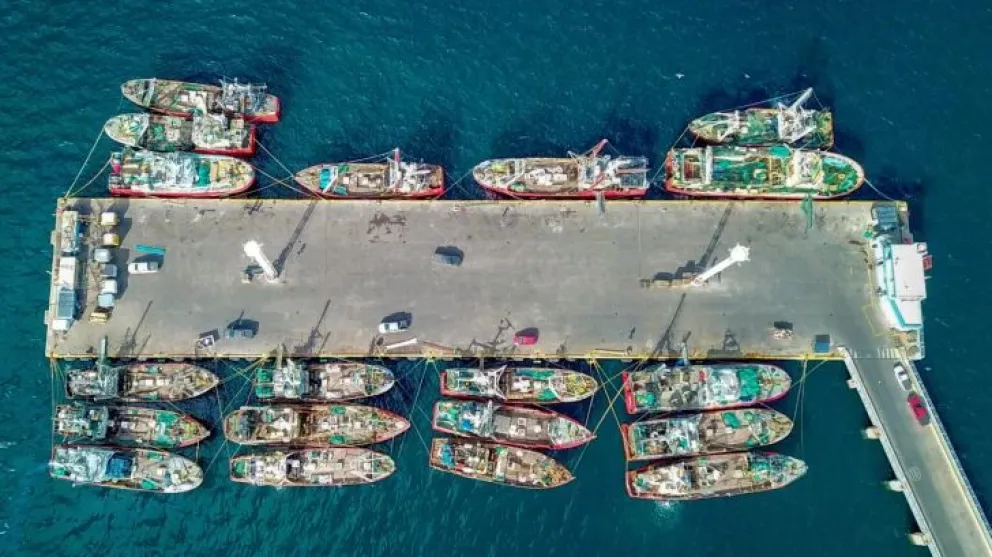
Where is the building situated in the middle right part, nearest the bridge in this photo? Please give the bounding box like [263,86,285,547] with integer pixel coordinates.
[872,238,931,331]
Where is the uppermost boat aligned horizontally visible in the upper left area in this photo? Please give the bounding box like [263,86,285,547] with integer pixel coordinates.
[119,65,282,123]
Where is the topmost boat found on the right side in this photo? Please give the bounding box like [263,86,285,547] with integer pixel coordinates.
[690,82,834,151]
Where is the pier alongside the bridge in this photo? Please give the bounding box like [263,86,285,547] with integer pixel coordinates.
[44,199,922,362]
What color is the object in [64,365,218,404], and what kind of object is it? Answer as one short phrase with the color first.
gray boat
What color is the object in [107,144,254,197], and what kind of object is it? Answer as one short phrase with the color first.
white boat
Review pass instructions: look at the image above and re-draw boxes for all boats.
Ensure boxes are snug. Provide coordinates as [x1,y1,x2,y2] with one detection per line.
[64,365,218,404]
[230,448,395,487]
[103,103,261,158]
[107,144,254,197]
[431,399,601,447]
[51,405,209,447]
[442,365,599,404]
[690,82,834,151]
[474,140,653,198]
[254,362,395,401]
[294,148,443,199]
[46,446,204,494]
[618,410,795,459]
[428,438,574,486]
[622,366,792,412]
[224,403,410,446]
[119,65,282,123]
[662,146,865,200]
[623,451,808,497]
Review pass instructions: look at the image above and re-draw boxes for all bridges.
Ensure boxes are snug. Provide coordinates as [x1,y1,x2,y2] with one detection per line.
[839,337,992,557]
